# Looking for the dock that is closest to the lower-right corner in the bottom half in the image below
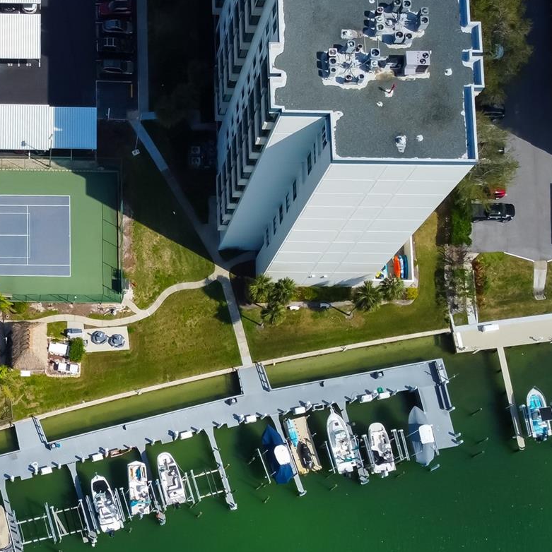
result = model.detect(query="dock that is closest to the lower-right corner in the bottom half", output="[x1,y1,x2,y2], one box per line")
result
[493,347,524,449]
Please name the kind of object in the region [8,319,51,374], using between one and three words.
shed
